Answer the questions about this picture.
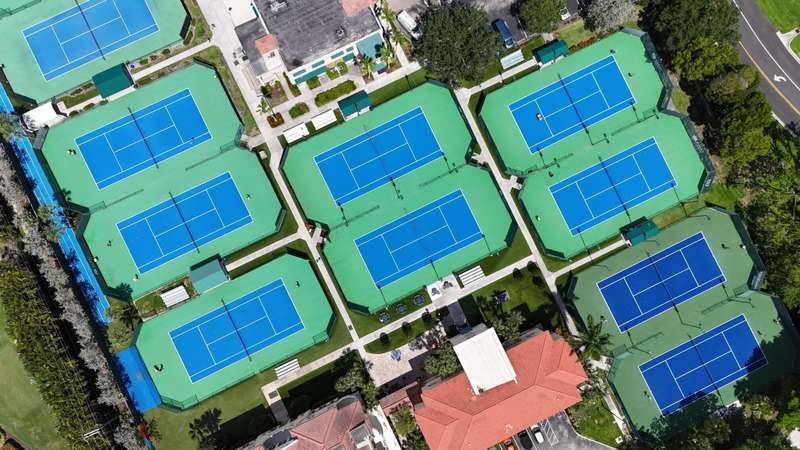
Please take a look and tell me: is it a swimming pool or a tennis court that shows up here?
tennis court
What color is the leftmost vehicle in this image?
white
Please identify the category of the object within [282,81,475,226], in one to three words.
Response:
tennis court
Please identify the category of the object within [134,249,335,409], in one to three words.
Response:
tennis court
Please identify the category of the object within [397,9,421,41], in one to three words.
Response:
vehicle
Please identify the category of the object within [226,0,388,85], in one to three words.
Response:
building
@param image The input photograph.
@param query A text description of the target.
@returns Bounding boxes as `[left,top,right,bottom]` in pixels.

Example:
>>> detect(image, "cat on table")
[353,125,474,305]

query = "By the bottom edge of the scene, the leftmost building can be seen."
[233,382,378,450]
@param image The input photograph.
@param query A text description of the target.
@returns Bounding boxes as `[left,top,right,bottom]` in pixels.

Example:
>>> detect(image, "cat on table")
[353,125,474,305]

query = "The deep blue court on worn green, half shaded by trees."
[610,283,797,440]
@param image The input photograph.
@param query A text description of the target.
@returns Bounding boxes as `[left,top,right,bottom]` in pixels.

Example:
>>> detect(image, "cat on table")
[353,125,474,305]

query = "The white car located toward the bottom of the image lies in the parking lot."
[530,423,547,445]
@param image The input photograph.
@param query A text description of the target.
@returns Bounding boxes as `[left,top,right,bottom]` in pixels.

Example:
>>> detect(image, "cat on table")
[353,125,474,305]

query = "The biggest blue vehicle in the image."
[495,20,513,48]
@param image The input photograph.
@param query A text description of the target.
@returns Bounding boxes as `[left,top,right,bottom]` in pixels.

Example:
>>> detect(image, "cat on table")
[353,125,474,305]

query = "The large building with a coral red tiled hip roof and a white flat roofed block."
[416,323,588,450]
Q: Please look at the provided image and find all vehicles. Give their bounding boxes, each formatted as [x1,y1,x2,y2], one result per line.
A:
[555,0,571,23]
[530,423,547,445]
[495,20,513,48]
[505,437,519,450]
[516,430,534,450]
[397,9,421,41]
